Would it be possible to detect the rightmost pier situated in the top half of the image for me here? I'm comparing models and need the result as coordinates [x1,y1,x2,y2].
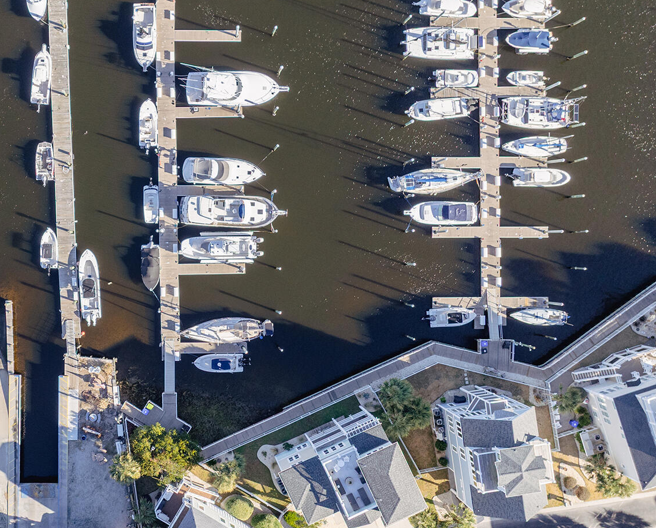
[429,0,548,329]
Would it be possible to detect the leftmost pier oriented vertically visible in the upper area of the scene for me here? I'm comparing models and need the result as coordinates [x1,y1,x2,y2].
[48,0,81,339]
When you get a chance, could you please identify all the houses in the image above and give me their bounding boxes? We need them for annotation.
[444,377,560,522]
[154,478,252,528]
[273,405,427,528]
[568,344,656,491]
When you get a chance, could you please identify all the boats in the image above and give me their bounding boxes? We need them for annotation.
[428,70,478,88]
[36,143,55,186]
[399,18,484,61]
[180,317,274,344]
[503,71,548,87]
[502,133,579,155]
[178,159,269,187]
[409,0,477,19]
[133,1,157,72]
[183,57,290,105]
[418,306,477,328]
[500,95,588,128]
[28,0,47,23]
[498,0,558,19]
[405,95,478,120]
[143,180,159,223]
[406,200,478,225]
[193,352,249,373]
[30,42,52,110]
[181,238,261,260]
[503,168,570,187]
[507,307,577,328]
[78,250,101,325]
[139,99,158,152]
[178,195,290,226]
[393,167,485,197]
[41,227,59,275]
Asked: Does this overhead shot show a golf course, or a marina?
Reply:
marina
